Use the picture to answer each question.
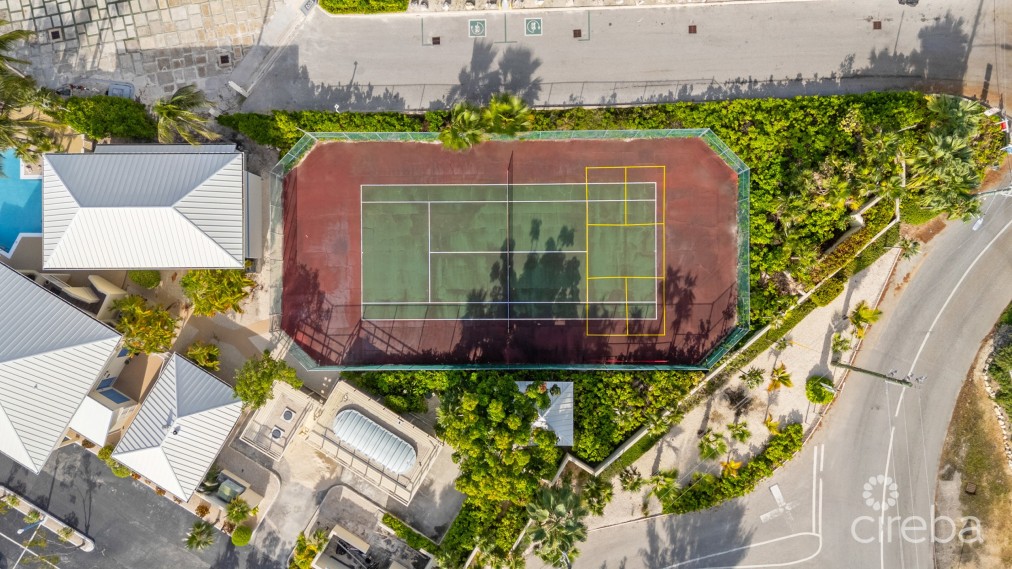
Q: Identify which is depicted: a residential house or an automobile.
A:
residential house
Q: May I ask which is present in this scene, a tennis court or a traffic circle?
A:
tennis court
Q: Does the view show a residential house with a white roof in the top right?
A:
No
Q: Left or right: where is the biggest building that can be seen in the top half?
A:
left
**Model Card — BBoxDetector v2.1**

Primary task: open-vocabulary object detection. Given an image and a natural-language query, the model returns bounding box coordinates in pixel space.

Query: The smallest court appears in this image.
[586,166,666,335]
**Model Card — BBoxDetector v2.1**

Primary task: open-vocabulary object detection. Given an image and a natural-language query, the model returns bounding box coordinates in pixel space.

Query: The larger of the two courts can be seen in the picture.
[280,136,739,367]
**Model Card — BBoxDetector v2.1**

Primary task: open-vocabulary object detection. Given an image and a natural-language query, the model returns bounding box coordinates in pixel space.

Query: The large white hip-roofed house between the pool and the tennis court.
[41,144,274,272]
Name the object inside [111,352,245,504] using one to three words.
house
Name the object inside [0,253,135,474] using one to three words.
house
